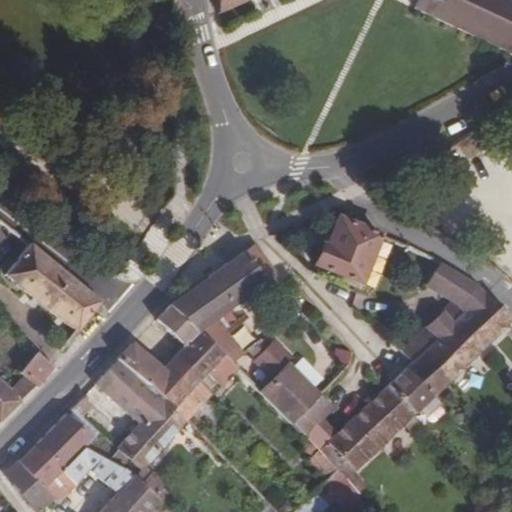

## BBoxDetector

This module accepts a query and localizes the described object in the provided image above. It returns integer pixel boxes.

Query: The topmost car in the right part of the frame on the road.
[486,86,508,102]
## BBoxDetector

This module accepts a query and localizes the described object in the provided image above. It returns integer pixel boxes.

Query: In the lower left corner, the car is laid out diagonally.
[6,435,27,455]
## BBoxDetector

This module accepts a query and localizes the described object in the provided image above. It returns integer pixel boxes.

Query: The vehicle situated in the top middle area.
[204,44,217,68]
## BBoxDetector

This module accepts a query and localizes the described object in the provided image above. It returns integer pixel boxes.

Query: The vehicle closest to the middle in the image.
[326,282,350,302]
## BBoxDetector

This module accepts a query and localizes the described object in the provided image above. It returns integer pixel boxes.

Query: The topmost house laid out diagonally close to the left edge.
[6,242,103,332]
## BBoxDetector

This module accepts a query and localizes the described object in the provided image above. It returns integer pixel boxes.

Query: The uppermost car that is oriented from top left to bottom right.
[472,157,490,180]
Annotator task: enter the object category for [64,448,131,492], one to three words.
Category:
building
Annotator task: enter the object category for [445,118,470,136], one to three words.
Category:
vehicle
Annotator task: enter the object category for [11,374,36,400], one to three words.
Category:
house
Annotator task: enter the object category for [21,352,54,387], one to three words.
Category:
house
